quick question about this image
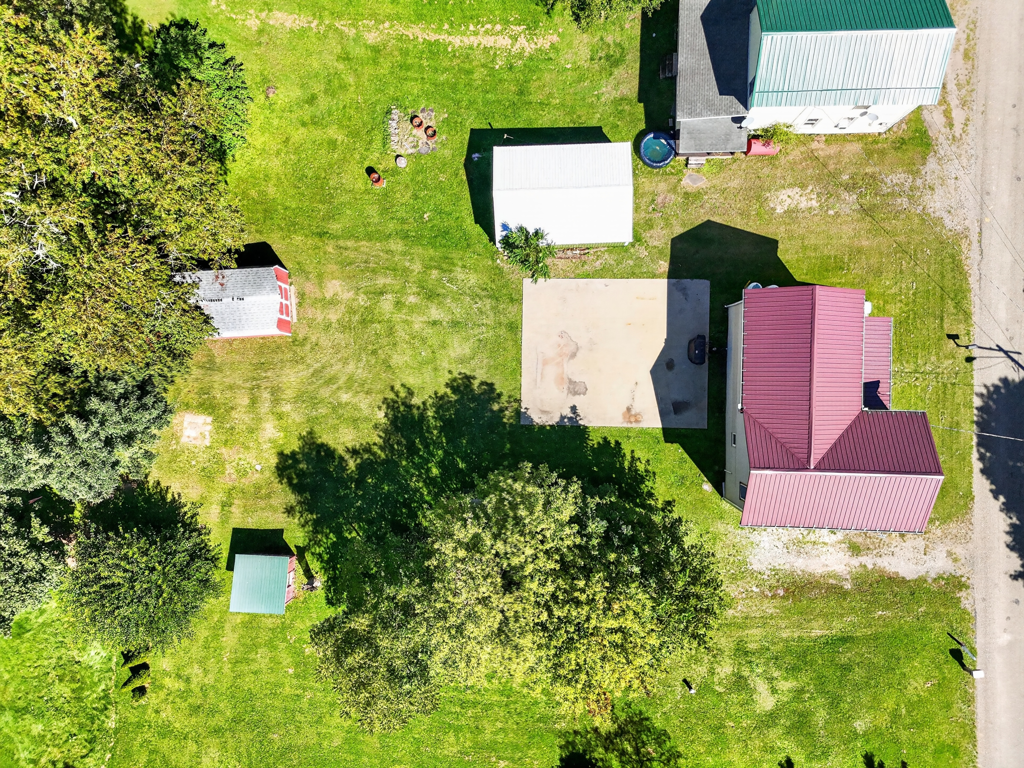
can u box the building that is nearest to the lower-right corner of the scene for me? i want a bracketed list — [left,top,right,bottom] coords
[715,285,943,534]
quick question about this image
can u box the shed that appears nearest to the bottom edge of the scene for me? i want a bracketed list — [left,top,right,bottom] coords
[227,554,294,614]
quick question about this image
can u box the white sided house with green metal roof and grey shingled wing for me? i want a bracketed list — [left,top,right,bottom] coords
[648,0,957,172]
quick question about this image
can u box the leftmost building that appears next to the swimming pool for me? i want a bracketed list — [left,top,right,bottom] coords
[493,142,634,253]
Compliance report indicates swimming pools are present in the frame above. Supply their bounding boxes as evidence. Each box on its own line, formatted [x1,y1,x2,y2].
[638,130,673,169]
